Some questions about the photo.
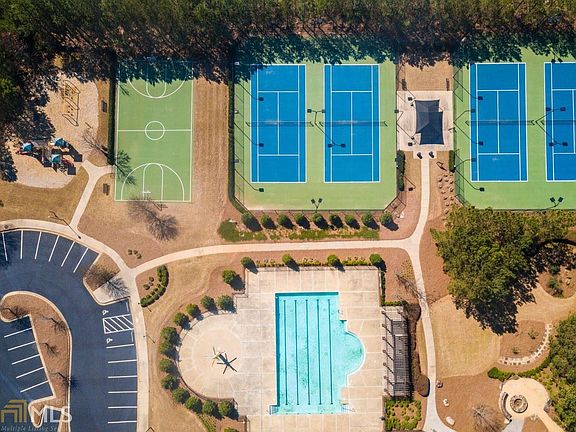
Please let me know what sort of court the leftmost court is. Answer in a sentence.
It looks like the leftmost court is a basketball court.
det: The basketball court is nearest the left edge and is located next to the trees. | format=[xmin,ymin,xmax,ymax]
[114,61,194,201]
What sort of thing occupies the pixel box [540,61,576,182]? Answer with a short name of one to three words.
tennis court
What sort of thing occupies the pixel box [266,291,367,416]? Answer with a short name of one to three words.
swimming pool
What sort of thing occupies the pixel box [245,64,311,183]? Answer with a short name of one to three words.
tennis court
